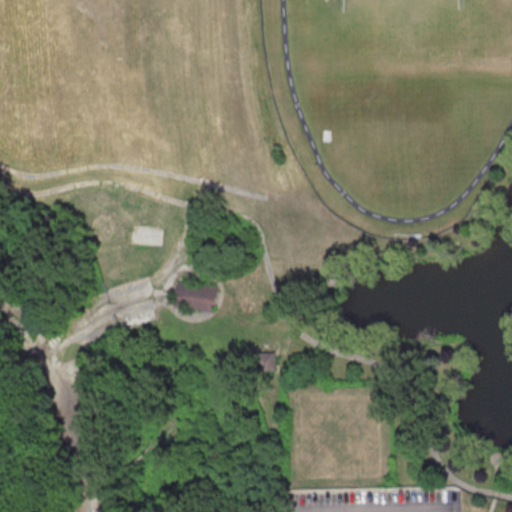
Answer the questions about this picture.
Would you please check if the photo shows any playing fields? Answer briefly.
Yes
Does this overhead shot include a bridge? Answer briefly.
No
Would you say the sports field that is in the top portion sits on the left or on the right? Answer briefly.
right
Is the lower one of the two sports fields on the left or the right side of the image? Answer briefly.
right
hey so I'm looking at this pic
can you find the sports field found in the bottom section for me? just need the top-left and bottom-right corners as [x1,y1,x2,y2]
[288,386,387,481]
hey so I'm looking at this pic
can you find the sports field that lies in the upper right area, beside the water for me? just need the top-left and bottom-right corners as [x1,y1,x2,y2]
[286,0,512,219]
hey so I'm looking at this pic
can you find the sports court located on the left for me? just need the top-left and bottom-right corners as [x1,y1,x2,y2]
[132,226,164,248]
